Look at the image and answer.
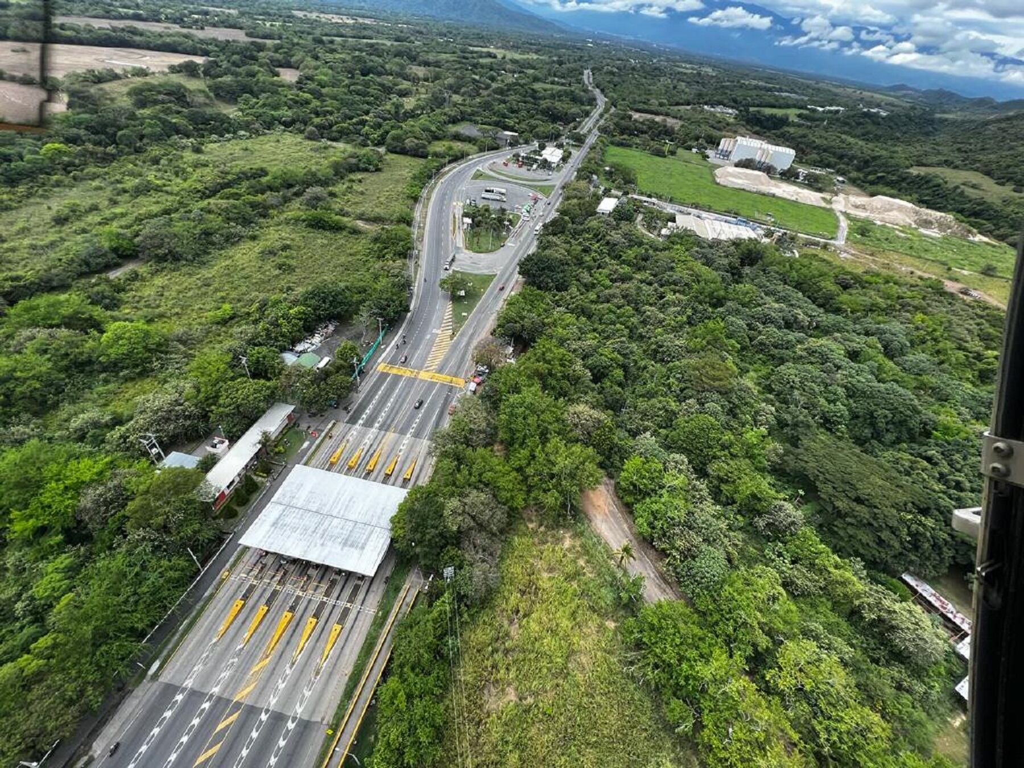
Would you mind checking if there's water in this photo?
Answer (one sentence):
No, the picture contains no water.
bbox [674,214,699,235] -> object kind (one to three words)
building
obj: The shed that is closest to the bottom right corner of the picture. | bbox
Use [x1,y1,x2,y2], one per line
[954,678,973,712]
